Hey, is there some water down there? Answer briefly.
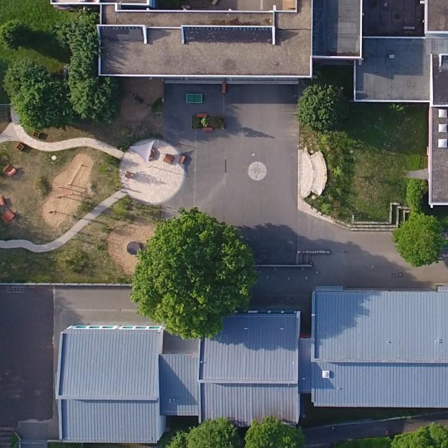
No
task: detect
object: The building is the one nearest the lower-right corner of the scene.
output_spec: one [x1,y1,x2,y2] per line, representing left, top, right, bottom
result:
[311,283,448,407]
